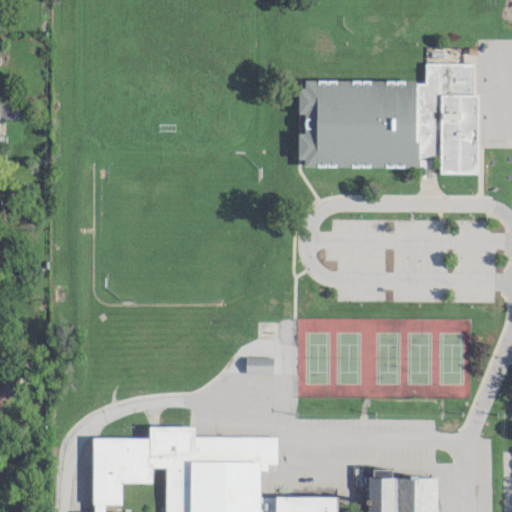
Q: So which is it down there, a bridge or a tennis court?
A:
tennis court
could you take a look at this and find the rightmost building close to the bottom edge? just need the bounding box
[366,468,438,512]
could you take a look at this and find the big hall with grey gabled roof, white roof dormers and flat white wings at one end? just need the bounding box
[300,64,479,176]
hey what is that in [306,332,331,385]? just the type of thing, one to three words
tennis court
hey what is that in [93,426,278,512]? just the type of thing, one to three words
building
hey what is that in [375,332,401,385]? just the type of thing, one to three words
tennis court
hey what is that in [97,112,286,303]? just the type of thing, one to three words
sports field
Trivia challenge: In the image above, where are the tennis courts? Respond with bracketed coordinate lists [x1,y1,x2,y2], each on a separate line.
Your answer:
[438,332,466,385]
[407,332,432,385]
[336,332,362,385]
[375,332,401,385]
[306,332,331,385]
